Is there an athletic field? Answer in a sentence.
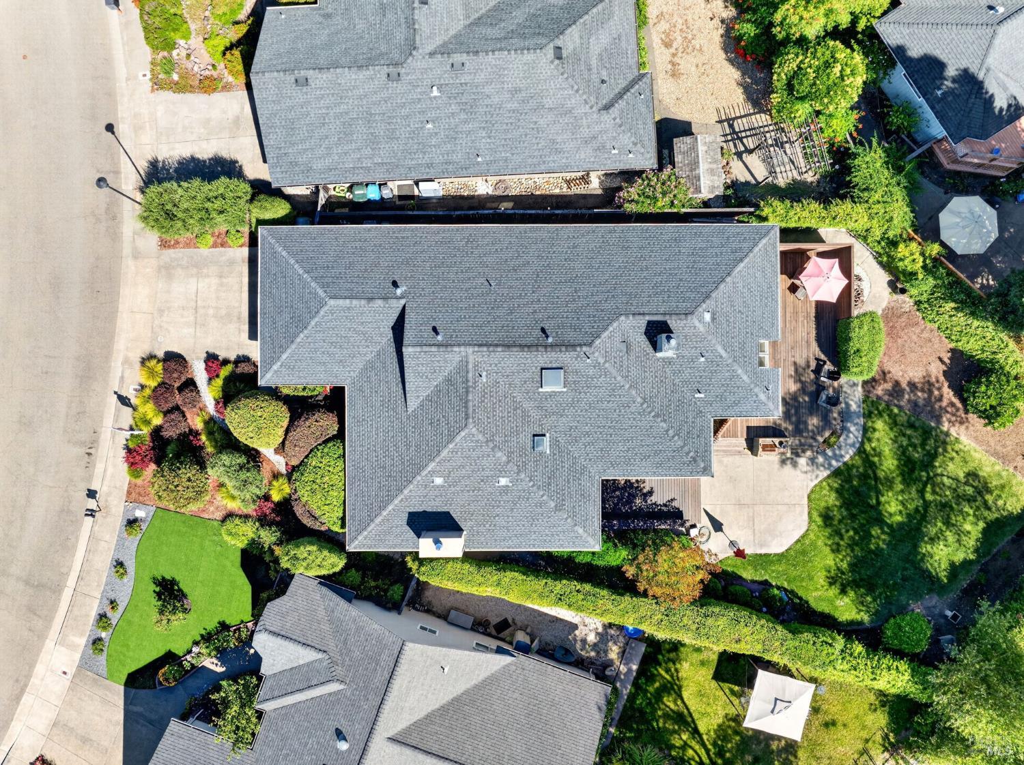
No, I find no athletic field anywhere in the image.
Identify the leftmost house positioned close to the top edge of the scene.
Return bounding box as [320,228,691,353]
[251,0,660,191]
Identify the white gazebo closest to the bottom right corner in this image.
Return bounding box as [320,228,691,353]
[728,660,814,741]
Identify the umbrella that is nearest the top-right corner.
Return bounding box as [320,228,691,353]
[934,196,998,254]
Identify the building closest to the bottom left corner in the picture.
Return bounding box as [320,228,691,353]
[148,571,610,765]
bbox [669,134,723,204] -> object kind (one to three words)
shed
